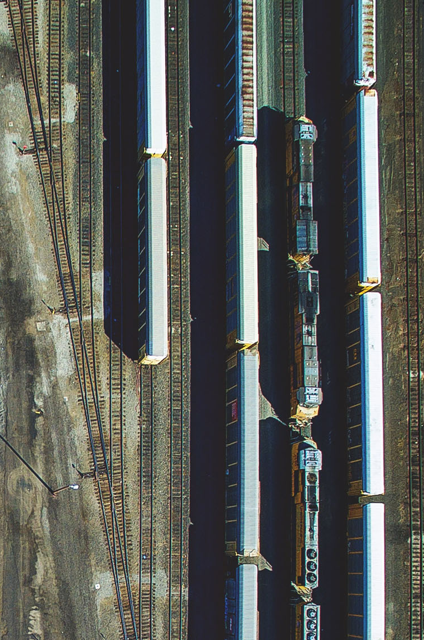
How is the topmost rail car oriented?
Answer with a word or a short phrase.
from top to bottom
